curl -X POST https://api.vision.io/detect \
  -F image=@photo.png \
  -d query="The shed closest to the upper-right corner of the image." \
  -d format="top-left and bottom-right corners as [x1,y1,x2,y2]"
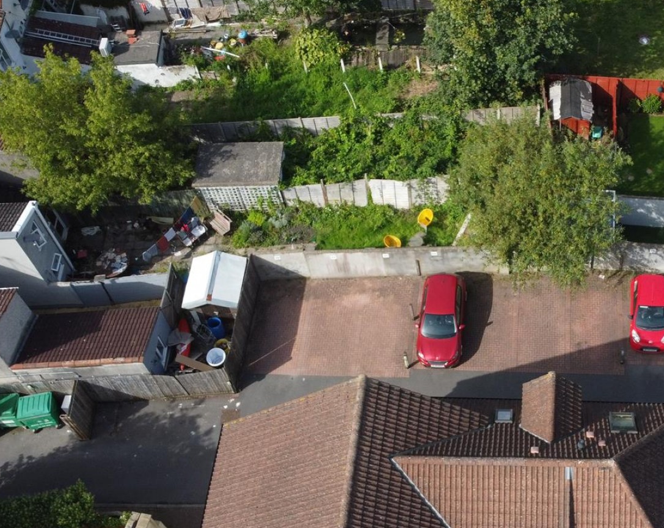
[551,76,592,144]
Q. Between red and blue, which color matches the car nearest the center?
red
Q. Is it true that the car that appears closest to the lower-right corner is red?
Yes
